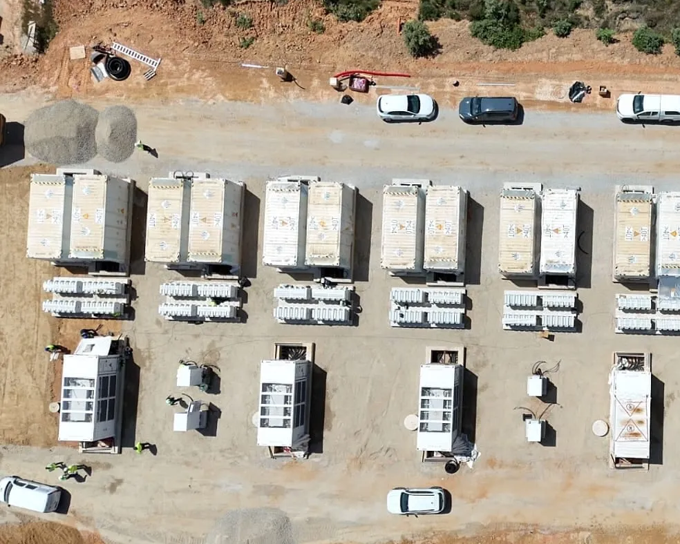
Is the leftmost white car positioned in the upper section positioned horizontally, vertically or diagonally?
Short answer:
horizontally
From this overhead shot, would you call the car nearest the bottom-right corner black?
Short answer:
No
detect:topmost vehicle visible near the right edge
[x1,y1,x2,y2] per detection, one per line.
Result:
[616,90,680,124]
